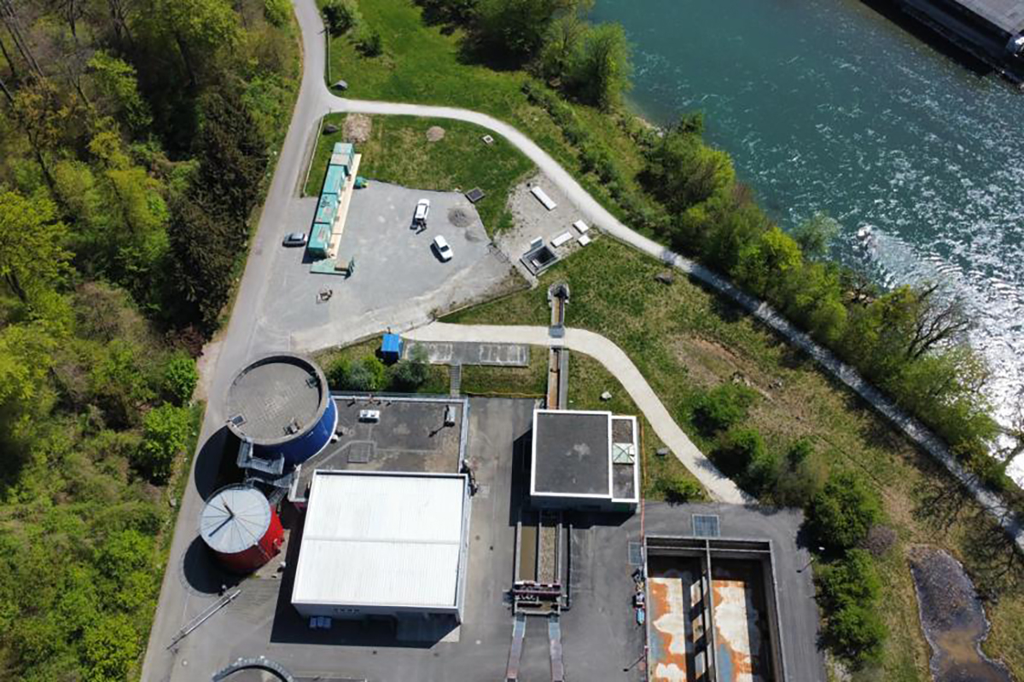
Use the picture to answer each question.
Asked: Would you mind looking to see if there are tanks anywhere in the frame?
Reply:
Yes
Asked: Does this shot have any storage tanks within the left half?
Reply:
Yes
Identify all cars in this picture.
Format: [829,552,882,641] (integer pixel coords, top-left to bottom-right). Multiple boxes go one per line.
[433,235,453,260]
[281,232,308,247]
[411,201,429,225]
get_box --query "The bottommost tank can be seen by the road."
[199,480,289,574]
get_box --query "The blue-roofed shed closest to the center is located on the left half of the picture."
[382,325,401,359]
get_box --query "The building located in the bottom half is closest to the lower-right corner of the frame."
[531,410,640,514]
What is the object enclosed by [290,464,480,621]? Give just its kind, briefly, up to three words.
building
